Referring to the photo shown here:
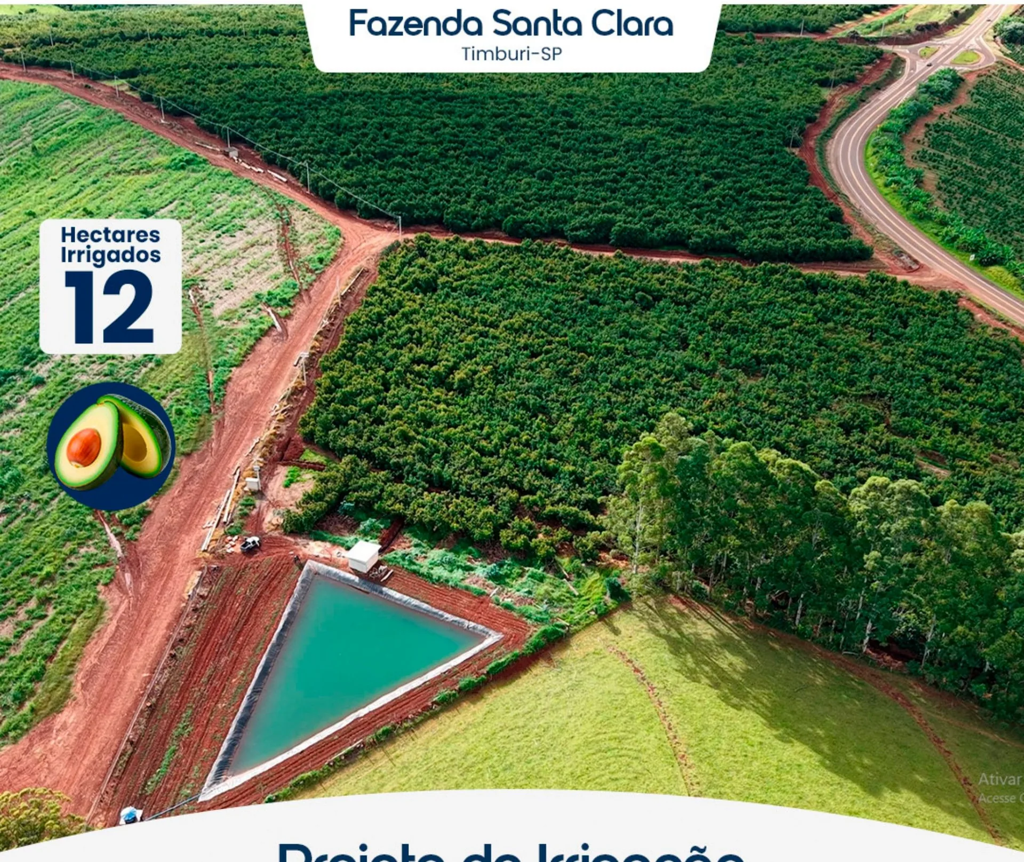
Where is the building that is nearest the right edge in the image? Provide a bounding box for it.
[343,536,384,569]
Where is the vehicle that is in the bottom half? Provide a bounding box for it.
[243,536,267,551]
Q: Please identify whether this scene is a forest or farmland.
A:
farmland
